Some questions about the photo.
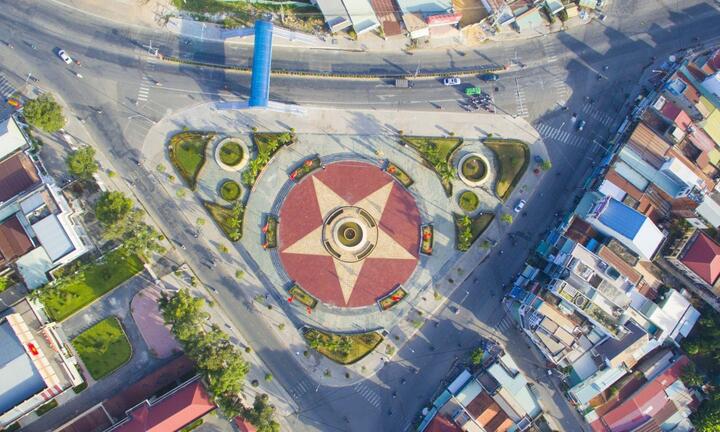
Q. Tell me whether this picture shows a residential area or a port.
residential area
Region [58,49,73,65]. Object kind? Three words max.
car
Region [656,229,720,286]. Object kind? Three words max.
house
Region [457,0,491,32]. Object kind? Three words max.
building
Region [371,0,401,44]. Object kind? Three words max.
house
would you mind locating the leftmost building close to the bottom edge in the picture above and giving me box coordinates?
[0,311,68,426]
